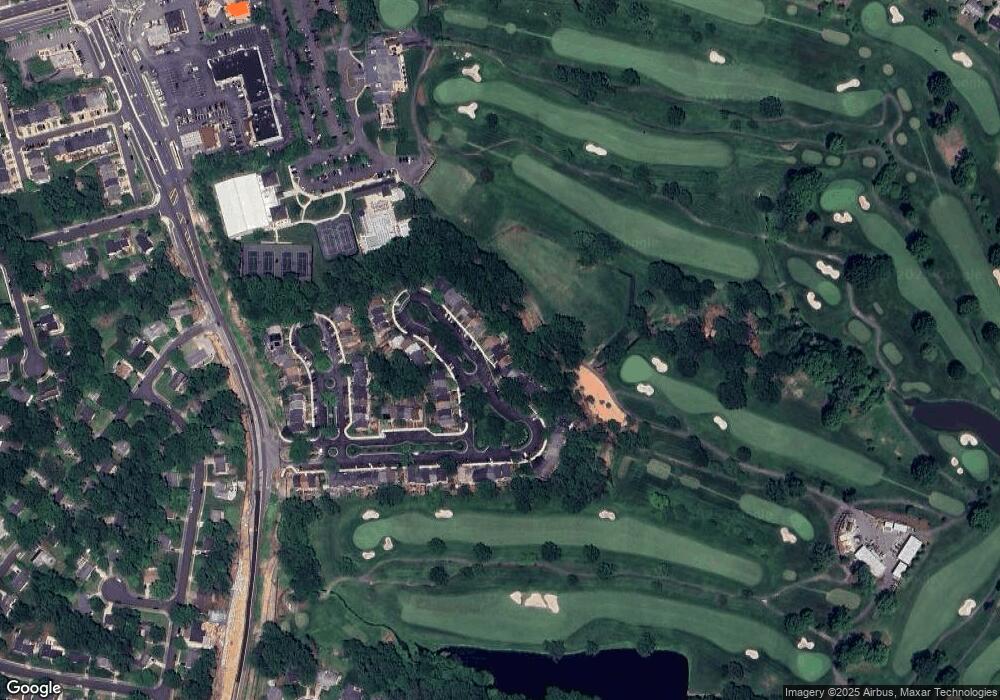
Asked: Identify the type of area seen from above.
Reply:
golf course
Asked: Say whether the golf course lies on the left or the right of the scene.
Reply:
right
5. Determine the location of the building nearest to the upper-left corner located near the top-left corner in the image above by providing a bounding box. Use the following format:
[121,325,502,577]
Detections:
[49,51,80,69]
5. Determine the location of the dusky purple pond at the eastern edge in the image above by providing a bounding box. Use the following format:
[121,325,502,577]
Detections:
[905,398,1000,456]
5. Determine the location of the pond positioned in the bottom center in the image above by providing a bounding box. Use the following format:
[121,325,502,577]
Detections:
[434,644,688,700]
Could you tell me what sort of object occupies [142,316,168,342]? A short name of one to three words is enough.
house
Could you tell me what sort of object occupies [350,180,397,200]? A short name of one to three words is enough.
building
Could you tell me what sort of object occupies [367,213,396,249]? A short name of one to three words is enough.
swimming pool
